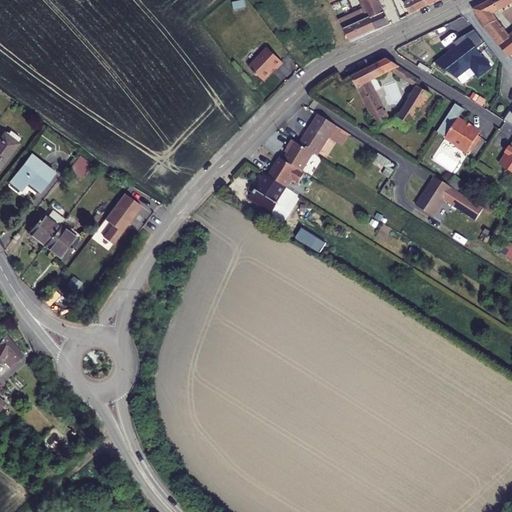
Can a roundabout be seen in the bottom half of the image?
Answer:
Yes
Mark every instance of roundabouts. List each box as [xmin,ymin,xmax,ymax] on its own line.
[56,322,140,407]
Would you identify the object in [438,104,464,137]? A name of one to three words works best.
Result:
building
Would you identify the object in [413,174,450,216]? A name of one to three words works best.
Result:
house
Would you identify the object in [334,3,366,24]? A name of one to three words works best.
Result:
shed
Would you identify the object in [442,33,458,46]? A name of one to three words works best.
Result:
vehicle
